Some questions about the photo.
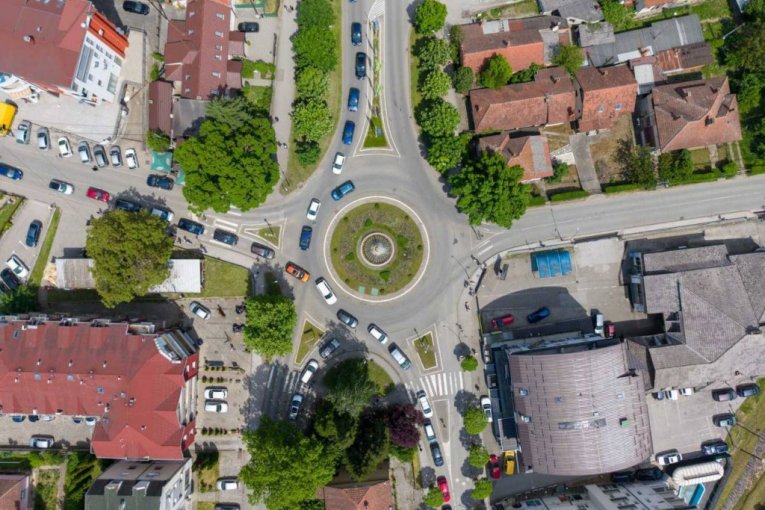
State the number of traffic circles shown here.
one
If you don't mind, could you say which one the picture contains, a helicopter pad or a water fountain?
water fountain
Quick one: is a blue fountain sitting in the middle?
No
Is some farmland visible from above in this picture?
No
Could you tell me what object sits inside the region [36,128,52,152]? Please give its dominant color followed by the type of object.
gray car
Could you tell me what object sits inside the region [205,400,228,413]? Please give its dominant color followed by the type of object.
white vehicle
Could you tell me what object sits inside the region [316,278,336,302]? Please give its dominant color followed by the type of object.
white car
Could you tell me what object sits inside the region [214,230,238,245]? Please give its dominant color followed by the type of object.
blue car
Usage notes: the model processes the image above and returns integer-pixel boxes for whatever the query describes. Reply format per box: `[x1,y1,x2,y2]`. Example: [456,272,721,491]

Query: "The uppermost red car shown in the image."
[86,188,111,202]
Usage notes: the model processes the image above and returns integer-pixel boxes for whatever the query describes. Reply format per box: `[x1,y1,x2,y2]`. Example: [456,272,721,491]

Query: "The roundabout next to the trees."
[281,153,473,345]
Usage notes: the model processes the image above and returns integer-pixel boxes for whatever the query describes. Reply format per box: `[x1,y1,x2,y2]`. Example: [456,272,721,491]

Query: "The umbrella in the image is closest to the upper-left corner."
[151,152,173,172]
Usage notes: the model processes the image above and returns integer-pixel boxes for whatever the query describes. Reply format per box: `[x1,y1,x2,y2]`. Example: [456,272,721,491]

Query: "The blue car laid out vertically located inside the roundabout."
[300,225,312,250]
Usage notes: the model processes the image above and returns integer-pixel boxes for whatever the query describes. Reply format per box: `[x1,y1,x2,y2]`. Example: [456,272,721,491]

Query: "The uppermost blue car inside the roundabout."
[332,182,355,199]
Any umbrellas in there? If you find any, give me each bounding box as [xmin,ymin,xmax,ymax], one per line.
[172,172,186,186]
[151,152,173,172]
